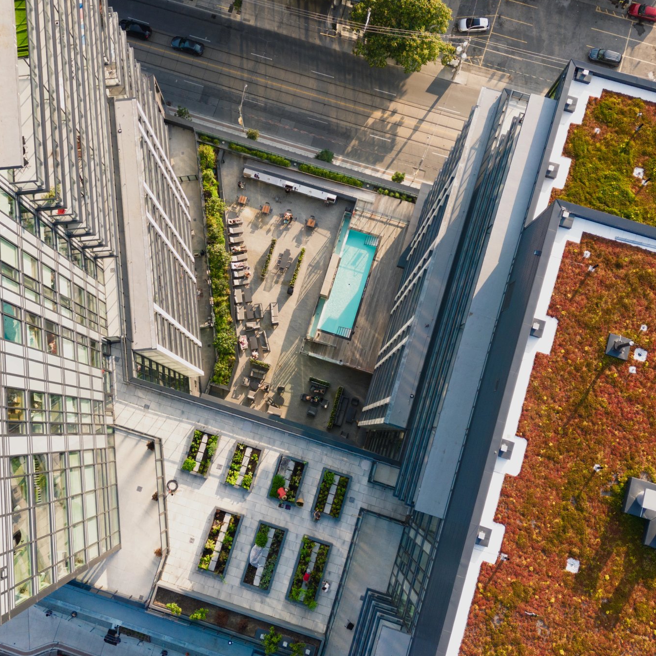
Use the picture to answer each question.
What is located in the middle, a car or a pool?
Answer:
pool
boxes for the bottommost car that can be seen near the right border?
[586,46,625,69]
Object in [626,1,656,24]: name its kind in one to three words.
car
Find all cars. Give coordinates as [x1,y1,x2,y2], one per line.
[456,15,493,33]
[626,1,656,24]
[119,18,154,40]
[586,46,625,69]
[169,35,206,57]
